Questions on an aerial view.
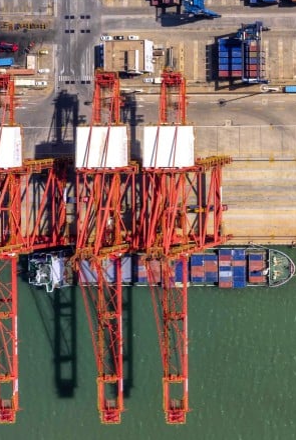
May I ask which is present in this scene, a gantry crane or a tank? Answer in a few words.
gantry crane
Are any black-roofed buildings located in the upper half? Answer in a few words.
No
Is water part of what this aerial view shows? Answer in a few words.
Yes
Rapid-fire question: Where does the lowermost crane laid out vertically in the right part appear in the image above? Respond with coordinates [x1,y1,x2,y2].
[141,68,236,425]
